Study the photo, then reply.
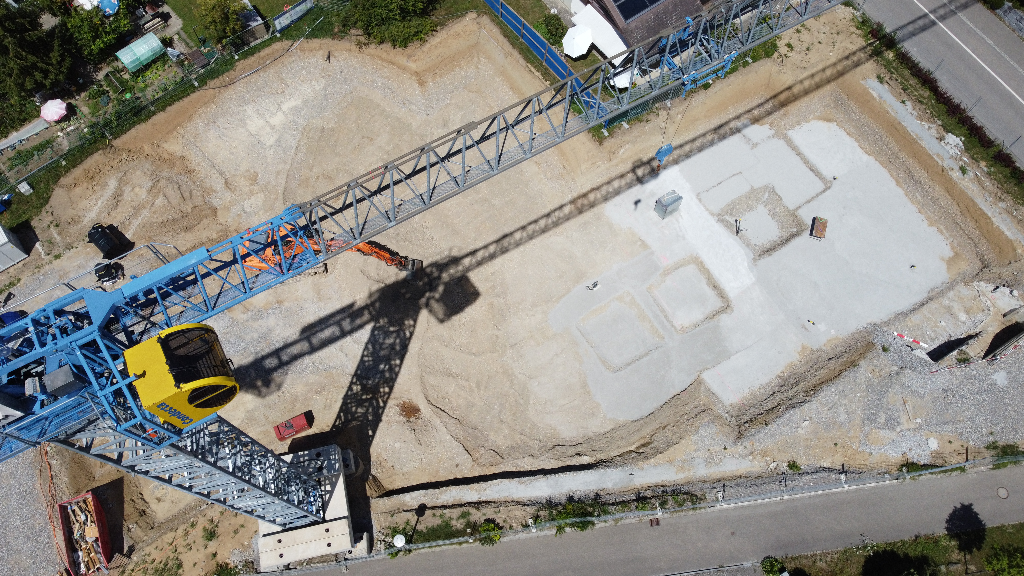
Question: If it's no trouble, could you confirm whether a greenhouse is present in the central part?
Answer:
No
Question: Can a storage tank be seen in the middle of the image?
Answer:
No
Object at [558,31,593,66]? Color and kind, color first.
white umbrella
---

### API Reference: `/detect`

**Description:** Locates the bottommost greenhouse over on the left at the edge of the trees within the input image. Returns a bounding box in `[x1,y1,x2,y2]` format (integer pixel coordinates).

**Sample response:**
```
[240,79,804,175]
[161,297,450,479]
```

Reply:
[115,31,171,78]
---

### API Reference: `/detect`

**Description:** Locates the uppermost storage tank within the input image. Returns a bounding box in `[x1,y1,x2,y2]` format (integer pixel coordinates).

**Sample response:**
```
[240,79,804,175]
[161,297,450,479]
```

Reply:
[89,218,133,263]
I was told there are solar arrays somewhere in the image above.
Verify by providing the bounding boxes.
[616,0,670,23]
